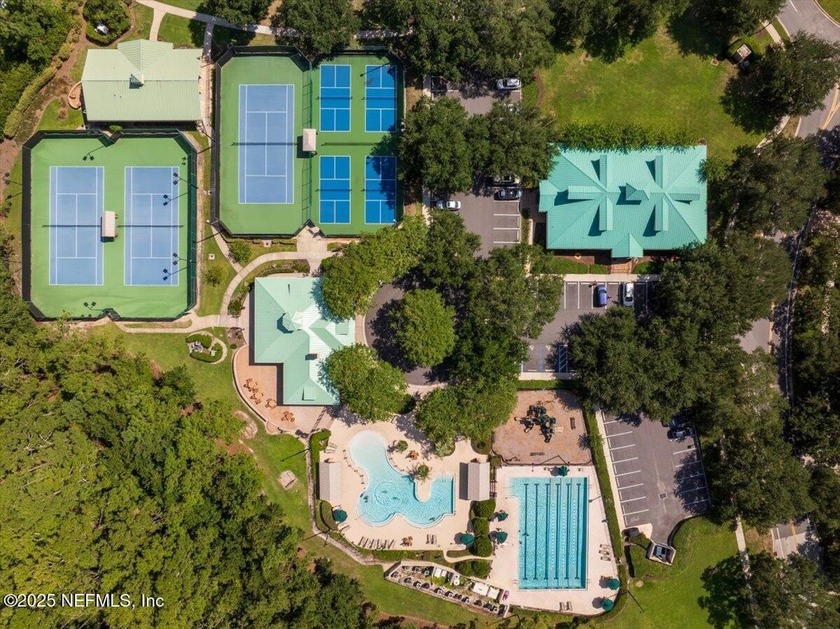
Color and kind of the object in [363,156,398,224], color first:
blue sports court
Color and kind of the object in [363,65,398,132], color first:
blue sports court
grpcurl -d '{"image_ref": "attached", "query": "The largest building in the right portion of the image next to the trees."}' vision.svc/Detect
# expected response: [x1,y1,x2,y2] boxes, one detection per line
[538,145,707,258]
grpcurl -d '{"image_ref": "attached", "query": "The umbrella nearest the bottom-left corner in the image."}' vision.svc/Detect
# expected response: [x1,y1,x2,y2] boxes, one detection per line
[332,507,348,522]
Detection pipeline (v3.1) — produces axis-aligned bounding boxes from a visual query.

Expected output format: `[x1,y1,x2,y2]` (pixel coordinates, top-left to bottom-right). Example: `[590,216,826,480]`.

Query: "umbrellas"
[332,507,348,522]
[599,595,614,611]
[495,508,509,521]
[459,531,474,546]
[555,463,569,477]
[493,529,508,545]
[605,576,620,590]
